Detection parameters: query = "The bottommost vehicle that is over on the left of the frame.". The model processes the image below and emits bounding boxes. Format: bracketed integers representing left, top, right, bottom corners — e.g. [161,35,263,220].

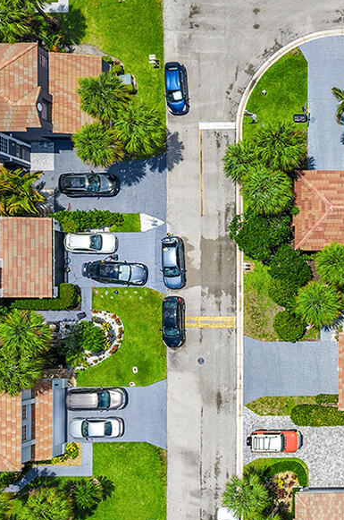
[71,414,127,440]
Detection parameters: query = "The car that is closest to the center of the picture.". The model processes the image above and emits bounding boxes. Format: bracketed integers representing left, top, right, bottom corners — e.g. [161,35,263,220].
[160,236,188,289]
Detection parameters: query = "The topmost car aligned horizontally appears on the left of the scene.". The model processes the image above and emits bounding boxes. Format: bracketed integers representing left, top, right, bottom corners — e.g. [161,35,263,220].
[61,171,119,197]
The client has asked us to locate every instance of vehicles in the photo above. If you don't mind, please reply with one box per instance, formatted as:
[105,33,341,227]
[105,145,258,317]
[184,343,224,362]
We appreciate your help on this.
[160,296,188,347]
[65,231,121,256]
[164,63,190,116]
[71,414,127,440]
[61,171,119,197]
[160,236,188,289]
[250,429,305,455]
[69,385,128,412]
[88,260,149,286]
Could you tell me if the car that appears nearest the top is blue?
Yes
